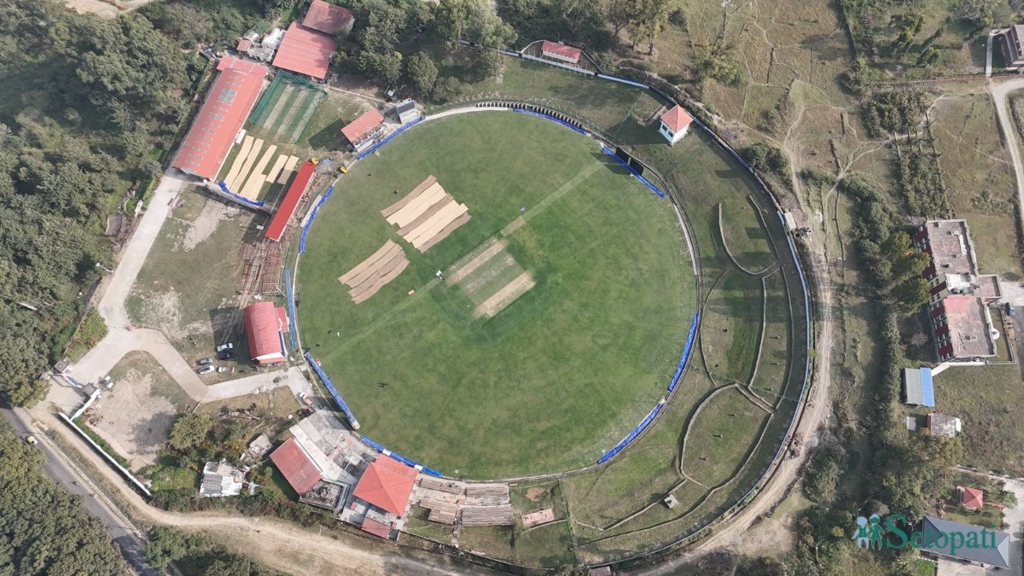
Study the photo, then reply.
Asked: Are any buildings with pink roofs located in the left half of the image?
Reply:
Yes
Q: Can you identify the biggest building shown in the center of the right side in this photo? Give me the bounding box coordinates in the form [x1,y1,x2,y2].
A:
[915,218,1004,364]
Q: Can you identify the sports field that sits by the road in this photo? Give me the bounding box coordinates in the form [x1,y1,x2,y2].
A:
[295,110,696,479]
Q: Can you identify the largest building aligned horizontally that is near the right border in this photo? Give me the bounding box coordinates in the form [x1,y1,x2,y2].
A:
[916,518,1009,569]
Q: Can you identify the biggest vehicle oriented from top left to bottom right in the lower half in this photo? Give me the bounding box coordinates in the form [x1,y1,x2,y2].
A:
[298,390,314,408]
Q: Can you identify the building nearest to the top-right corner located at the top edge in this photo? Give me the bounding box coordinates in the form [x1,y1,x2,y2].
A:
[995,25,1024,76]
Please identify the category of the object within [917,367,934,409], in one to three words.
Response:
shed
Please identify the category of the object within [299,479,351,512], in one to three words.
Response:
house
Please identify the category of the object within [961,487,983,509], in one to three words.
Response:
gazebo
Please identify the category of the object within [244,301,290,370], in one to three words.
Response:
building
